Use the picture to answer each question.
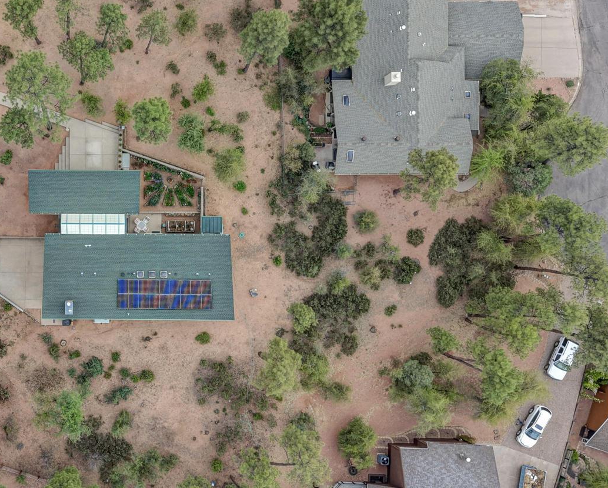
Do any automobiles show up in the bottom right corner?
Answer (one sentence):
Yes, there is an automobile in the bottom right corner.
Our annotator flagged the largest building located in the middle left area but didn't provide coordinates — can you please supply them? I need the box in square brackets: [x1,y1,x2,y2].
[28,169,235,321]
